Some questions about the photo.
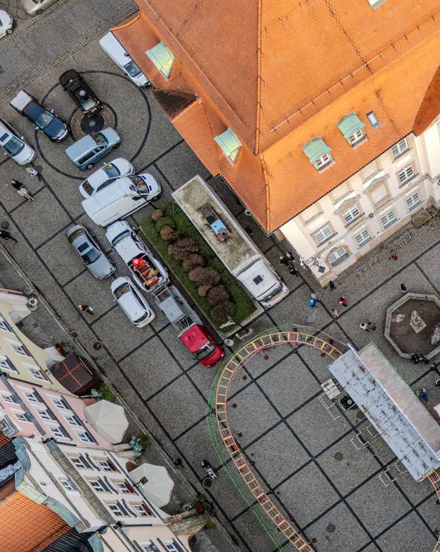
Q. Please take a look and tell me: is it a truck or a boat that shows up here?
truck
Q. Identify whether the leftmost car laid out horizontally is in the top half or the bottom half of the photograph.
top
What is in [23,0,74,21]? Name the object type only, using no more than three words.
car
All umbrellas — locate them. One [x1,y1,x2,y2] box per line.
[87,401,129,441]
[134,466,175,506]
